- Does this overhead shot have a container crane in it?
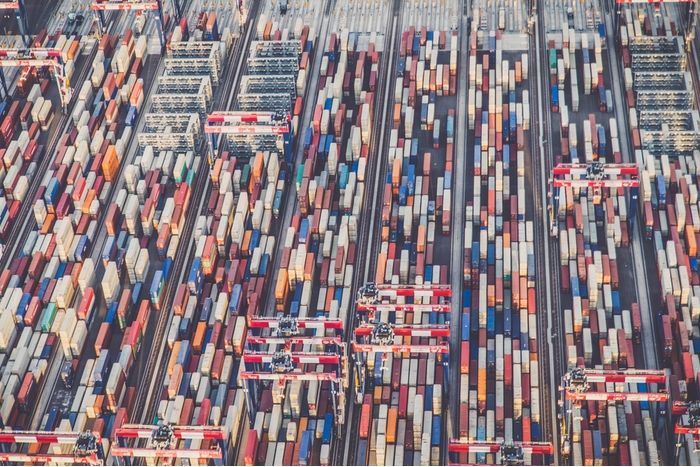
Yes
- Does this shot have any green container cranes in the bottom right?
No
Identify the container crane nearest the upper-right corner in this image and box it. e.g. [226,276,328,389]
[616,0,697,49]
